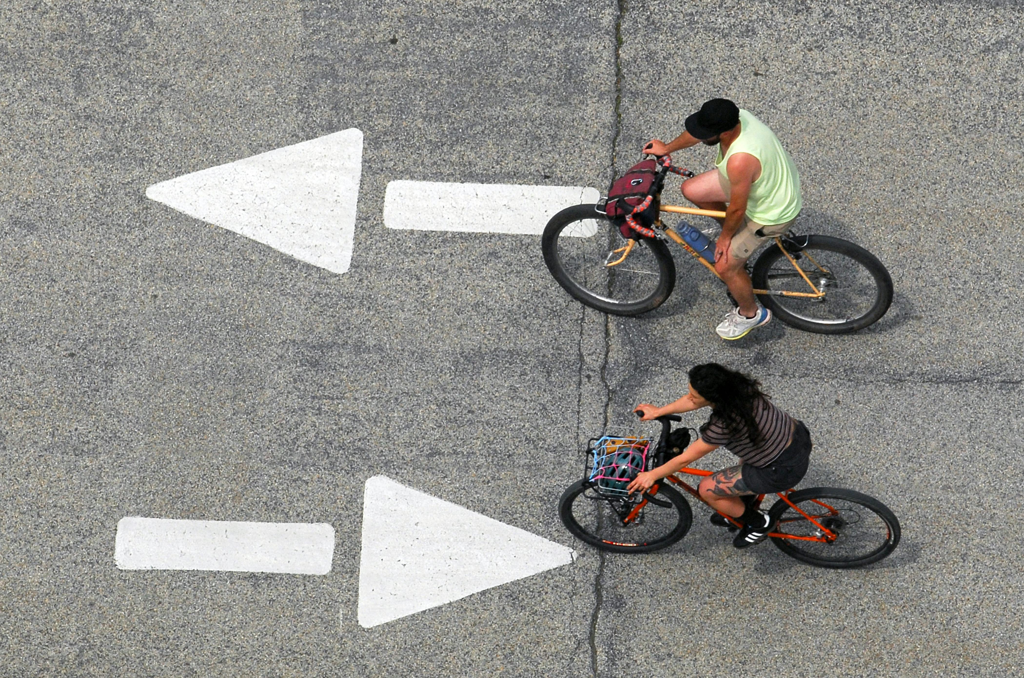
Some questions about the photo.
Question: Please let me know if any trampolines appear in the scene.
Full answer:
No, there appears to be no trampoline in this shot.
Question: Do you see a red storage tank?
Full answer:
No, there isn't any red storage tank down there.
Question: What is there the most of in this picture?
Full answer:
For the most part, this view shows paved ground.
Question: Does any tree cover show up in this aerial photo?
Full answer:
No, the scene doesn't show any tree cover.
